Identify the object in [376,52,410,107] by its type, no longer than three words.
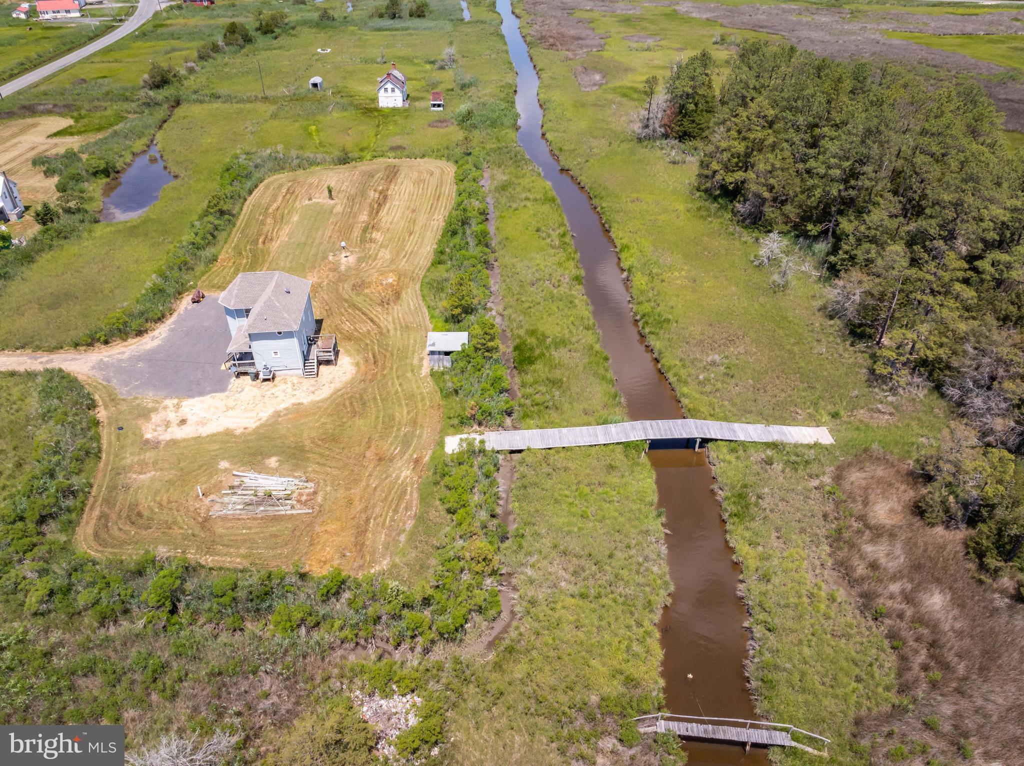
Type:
house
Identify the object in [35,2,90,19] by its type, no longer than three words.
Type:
house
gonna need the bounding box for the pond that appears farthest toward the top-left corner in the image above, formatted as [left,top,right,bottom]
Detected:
[98,143,175,221]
